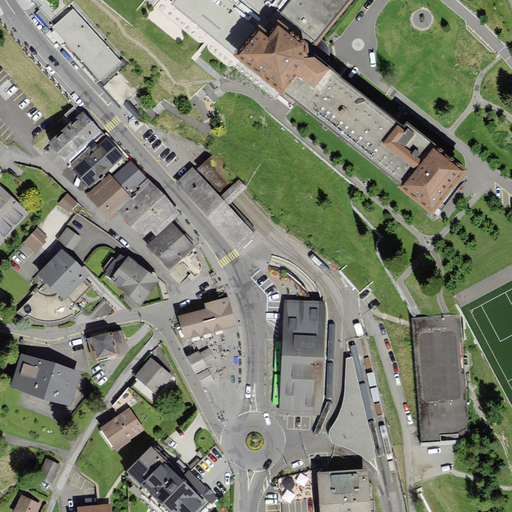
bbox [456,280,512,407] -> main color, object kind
green sports field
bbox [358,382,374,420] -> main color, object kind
gray rail car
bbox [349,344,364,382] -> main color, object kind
gray rail car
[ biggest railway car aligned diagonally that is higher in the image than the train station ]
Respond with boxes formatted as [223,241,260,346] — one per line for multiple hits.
[308,252,330,274]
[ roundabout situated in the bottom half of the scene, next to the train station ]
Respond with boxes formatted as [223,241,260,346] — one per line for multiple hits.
[227,413,282,468]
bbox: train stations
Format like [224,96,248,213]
[280,300,325,415]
